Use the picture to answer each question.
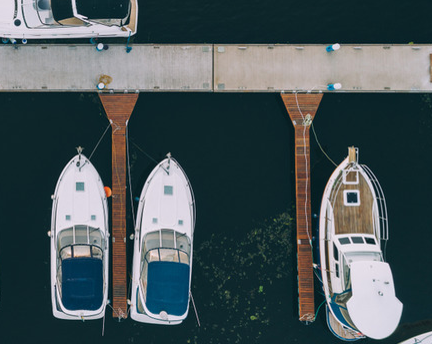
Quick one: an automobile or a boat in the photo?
boat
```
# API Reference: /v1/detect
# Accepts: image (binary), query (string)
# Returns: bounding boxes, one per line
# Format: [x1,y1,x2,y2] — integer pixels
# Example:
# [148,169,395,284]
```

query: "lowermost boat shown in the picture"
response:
[400,329,432,344]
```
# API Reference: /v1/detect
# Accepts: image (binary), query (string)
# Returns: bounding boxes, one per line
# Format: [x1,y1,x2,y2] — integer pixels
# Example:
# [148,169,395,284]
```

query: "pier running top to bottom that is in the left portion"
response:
[98,91,139,321]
